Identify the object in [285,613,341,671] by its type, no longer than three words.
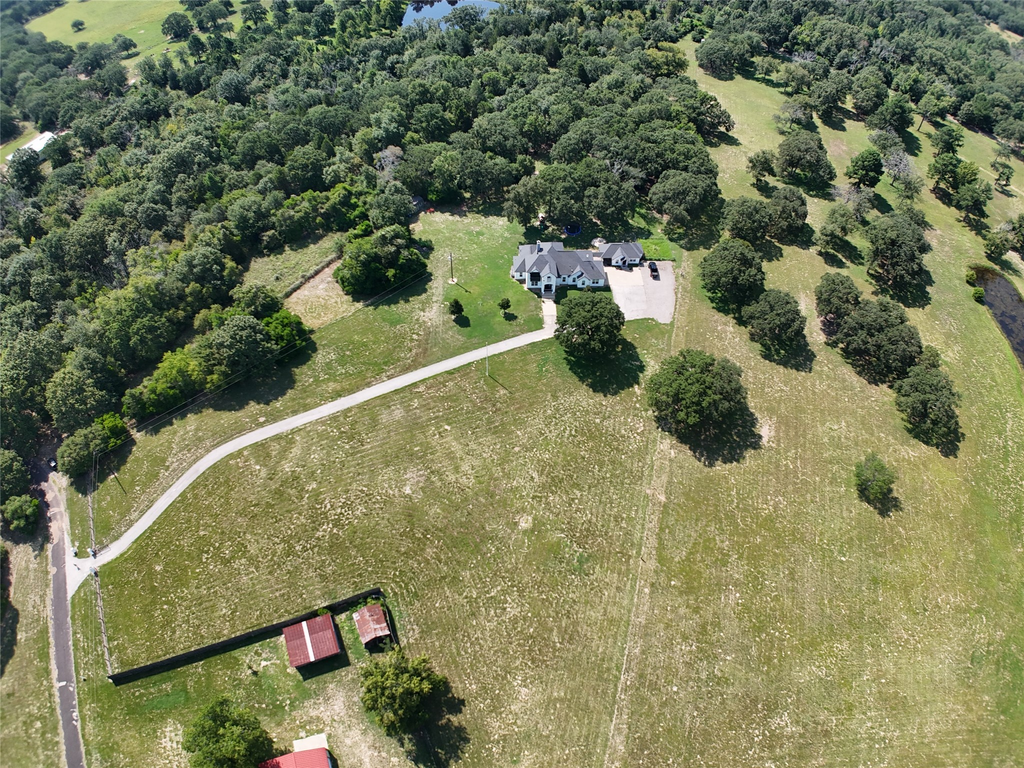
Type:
shed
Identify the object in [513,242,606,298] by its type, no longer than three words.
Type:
house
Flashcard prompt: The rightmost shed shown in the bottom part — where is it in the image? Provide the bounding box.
[354,604,390,646]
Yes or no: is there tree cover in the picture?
Yes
